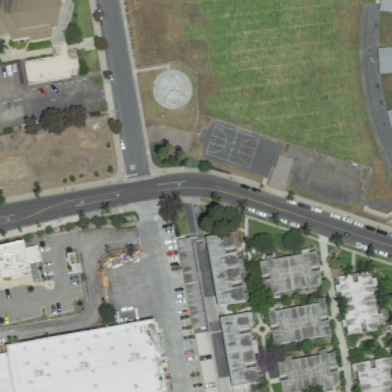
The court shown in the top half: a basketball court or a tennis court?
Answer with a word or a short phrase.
basketball court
